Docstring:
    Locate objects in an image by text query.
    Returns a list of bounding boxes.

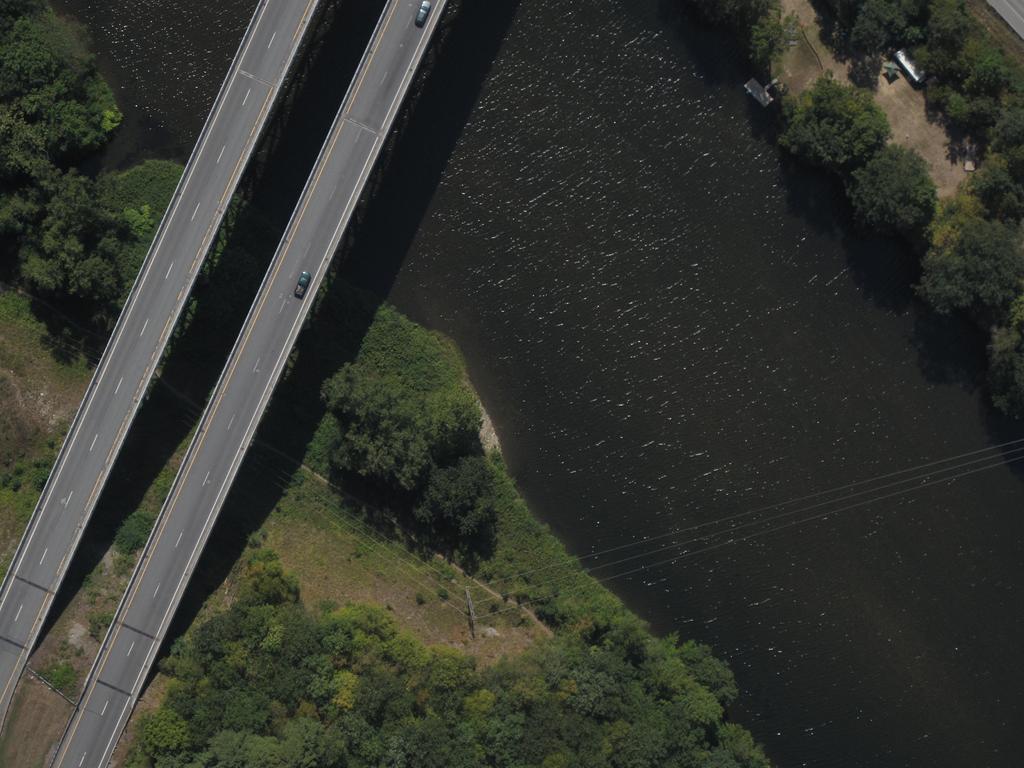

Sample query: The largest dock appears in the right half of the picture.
[743,78,777,107]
